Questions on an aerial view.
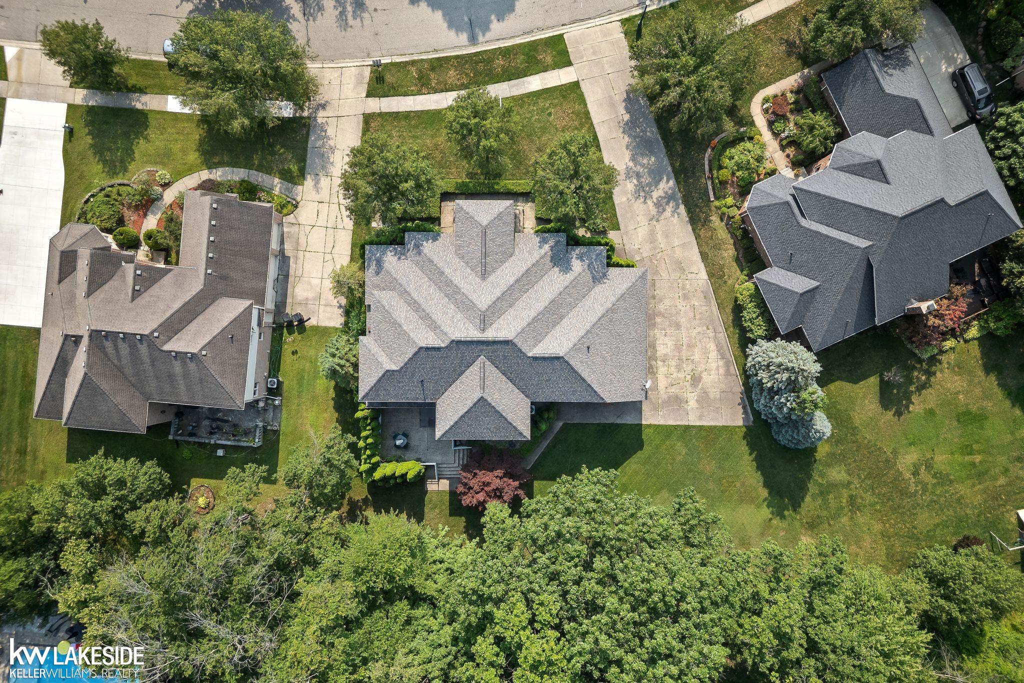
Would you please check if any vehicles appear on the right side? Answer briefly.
Yes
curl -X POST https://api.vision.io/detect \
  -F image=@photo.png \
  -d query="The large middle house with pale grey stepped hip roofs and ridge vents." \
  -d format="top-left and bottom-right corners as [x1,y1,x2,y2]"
[358,199,652,441]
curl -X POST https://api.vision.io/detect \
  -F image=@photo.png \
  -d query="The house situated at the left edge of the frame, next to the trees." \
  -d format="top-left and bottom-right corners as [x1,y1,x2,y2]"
[33,189,283,434]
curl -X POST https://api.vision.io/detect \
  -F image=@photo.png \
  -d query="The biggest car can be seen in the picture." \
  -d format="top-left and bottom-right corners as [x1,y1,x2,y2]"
[952,58,999,124]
